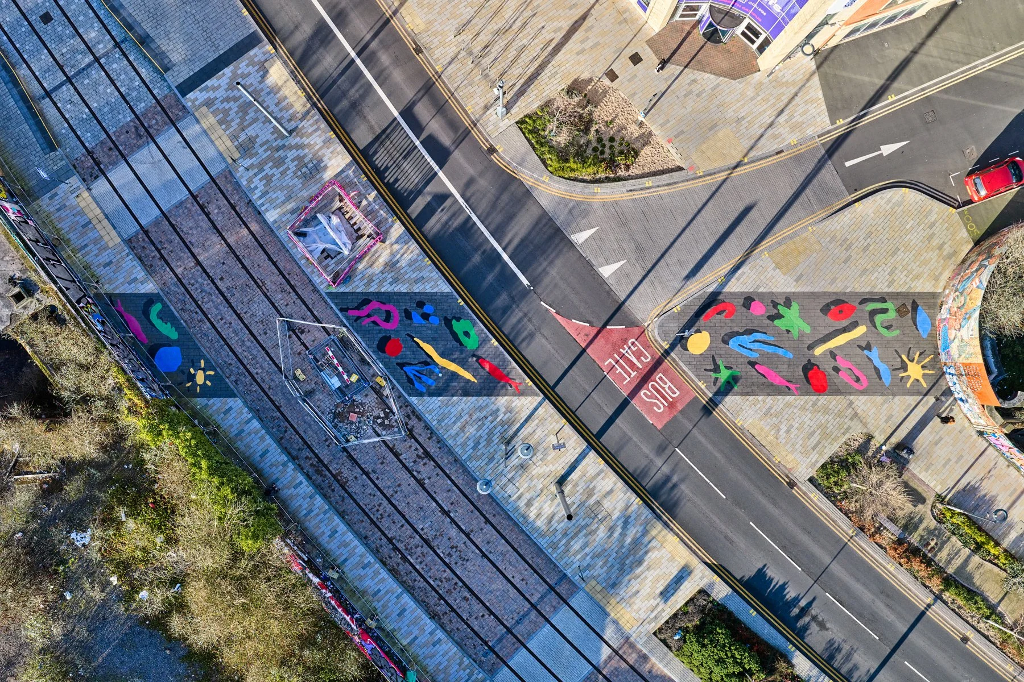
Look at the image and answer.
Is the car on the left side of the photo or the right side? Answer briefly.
right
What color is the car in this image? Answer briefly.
red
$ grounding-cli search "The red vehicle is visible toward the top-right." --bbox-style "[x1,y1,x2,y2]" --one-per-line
[969,152,1024,201]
